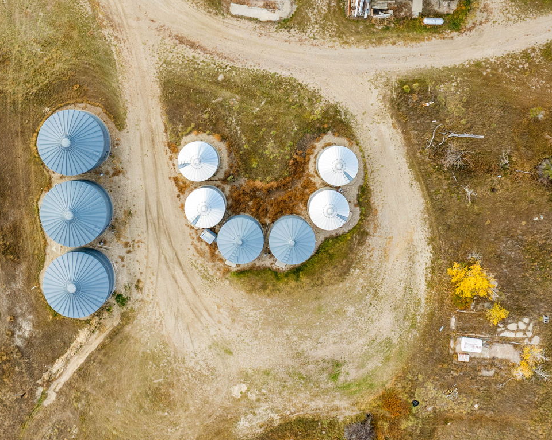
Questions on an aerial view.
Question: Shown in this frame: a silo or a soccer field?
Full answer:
The image shows a silo.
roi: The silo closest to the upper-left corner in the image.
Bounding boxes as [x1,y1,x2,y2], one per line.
[37,106,114,177]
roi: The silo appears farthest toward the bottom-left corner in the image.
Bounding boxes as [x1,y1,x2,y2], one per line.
[41,242,118,319]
